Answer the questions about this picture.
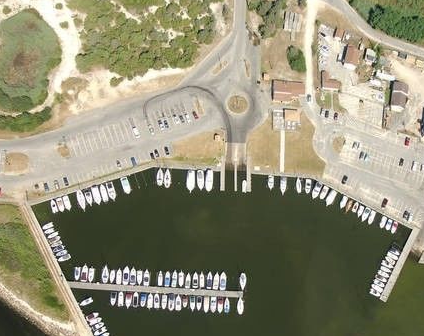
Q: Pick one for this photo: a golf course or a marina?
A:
marina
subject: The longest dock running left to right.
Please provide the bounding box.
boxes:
[69,281,243,297]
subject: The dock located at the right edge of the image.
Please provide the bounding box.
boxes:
[380,229,418,302]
